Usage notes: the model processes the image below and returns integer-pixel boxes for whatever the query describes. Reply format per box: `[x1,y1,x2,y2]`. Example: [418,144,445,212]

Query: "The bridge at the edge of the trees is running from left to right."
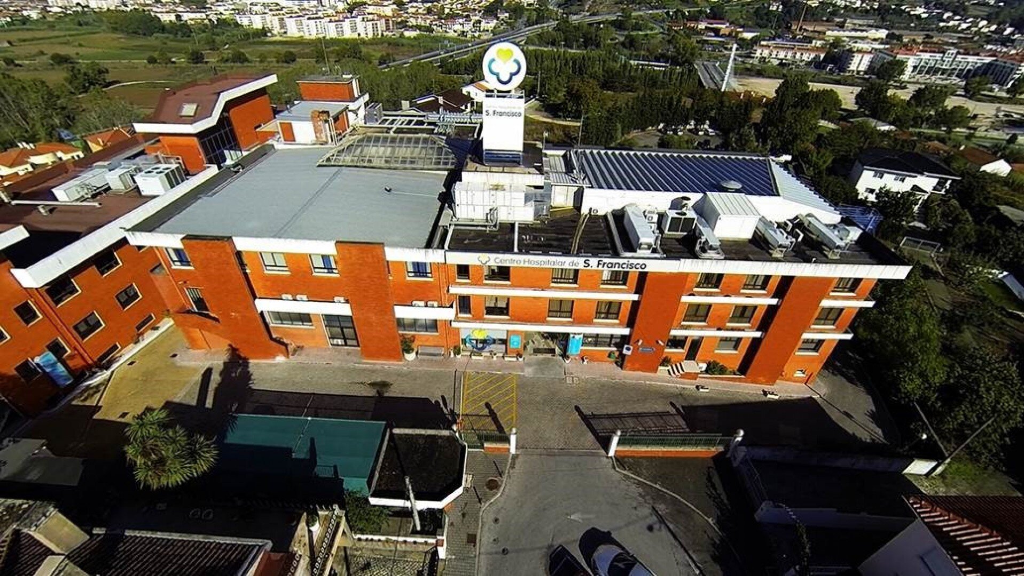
[371,9,683,61]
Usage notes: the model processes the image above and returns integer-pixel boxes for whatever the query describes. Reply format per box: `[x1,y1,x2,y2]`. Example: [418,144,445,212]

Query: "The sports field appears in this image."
[895,250,952,300]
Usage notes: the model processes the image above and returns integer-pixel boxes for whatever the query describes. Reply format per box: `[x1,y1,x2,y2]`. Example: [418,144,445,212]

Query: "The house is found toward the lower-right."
[868,493,1024,576]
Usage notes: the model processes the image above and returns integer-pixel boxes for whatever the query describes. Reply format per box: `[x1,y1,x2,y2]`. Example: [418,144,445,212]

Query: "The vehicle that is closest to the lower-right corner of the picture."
[592,541,654,576]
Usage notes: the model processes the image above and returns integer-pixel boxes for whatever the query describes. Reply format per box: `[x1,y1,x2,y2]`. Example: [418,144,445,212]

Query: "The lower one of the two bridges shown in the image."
[703,43,762,92]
